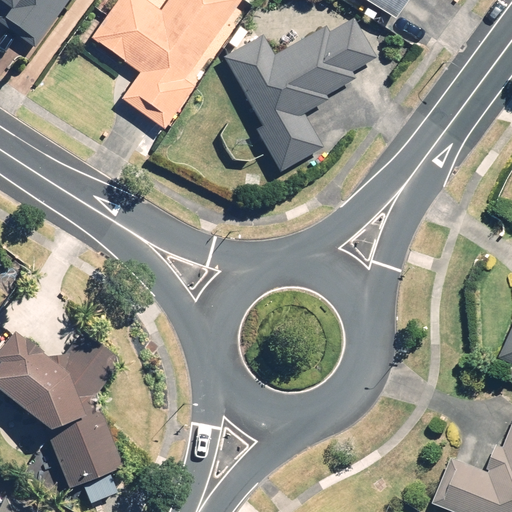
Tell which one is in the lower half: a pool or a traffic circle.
traffic circle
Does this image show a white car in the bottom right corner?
No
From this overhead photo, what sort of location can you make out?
residential area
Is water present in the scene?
No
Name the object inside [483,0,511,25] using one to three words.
car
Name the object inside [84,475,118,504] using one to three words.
shed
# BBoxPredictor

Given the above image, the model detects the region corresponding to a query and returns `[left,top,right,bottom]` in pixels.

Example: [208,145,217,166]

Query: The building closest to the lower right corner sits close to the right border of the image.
[432,423,512,512]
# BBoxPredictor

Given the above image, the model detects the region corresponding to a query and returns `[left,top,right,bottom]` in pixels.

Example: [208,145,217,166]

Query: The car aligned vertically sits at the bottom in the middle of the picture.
[195,424,212,458]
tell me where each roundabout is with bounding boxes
[239,287,344,392]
